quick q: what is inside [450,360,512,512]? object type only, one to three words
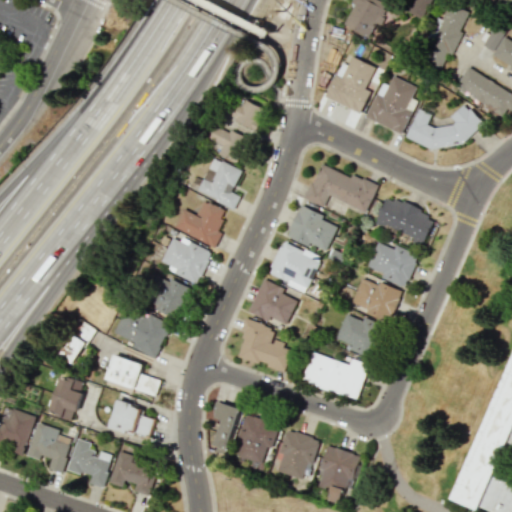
building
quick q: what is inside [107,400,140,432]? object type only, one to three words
house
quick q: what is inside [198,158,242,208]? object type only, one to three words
house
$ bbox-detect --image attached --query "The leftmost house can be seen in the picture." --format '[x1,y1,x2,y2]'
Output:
[0,408,36,454]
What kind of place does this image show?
residential area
